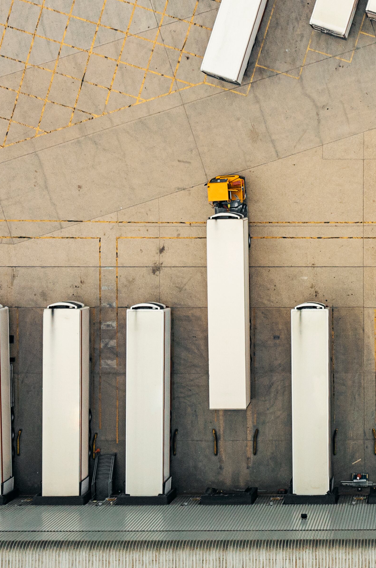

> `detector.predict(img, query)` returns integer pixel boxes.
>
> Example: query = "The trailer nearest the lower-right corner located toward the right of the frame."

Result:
[292,302,333,493]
